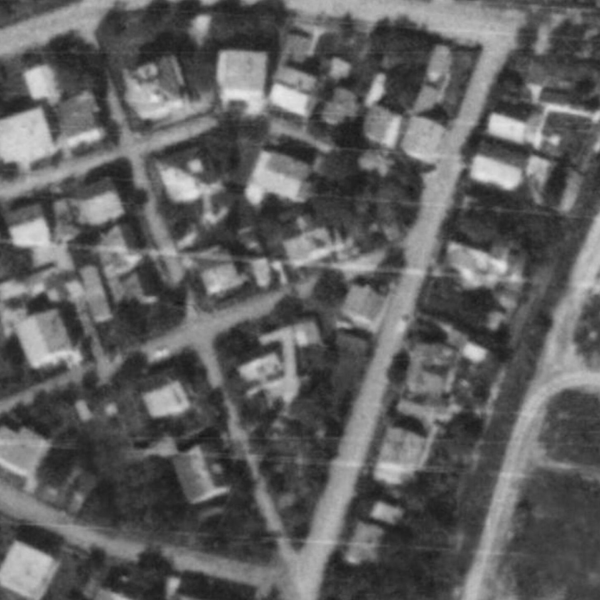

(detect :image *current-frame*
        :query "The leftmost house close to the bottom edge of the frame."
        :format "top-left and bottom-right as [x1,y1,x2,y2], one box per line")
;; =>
[0,542,60,600]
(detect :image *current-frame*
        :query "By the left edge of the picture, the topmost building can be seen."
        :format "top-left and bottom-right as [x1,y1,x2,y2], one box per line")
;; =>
[25,64,59,106]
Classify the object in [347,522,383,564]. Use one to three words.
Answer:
house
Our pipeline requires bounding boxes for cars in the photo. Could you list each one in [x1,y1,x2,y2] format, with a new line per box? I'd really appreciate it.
[396,320,406,334]
[154,347,172,359]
